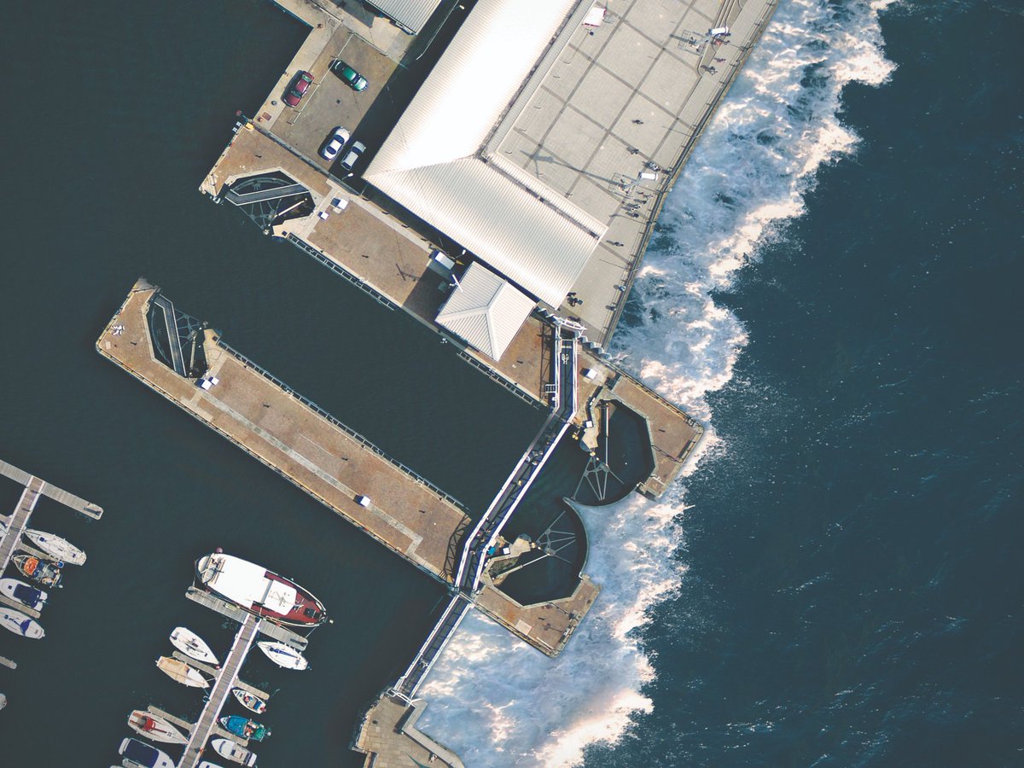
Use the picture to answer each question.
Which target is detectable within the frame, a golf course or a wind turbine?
wind turbine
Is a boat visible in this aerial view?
Yes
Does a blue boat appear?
Yes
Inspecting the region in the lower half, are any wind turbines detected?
No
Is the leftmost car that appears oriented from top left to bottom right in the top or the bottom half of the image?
top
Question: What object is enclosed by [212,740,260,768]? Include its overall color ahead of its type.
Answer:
white boat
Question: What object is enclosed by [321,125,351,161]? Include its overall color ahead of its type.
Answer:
white car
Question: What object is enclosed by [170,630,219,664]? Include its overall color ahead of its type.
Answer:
white boat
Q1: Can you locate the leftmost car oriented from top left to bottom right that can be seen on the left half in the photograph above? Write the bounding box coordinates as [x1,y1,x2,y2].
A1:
[331,58,366,90]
